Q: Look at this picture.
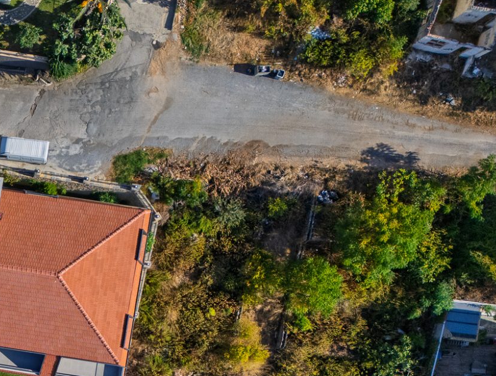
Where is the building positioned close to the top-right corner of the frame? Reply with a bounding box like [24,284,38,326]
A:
[410,0,496,81]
